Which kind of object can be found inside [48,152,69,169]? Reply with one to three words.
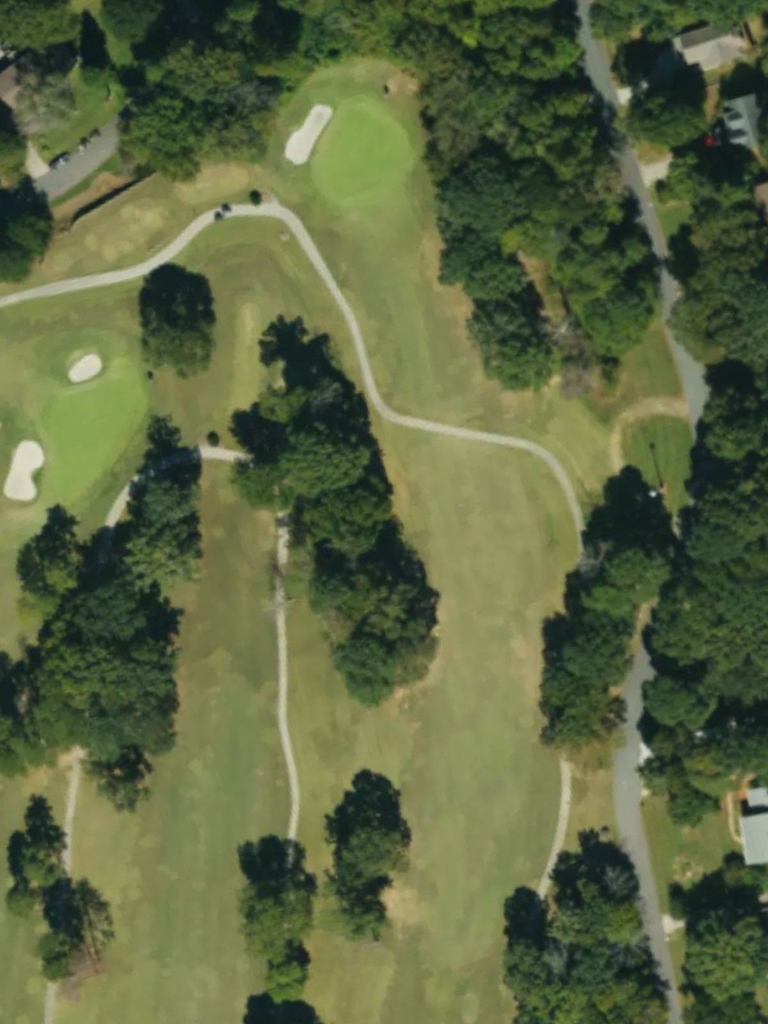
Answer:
car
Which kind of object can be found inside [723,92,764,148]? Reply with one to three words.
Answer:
house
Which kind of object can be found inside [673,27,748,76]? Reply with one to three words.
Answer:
house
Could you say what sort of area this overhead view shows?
golf course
